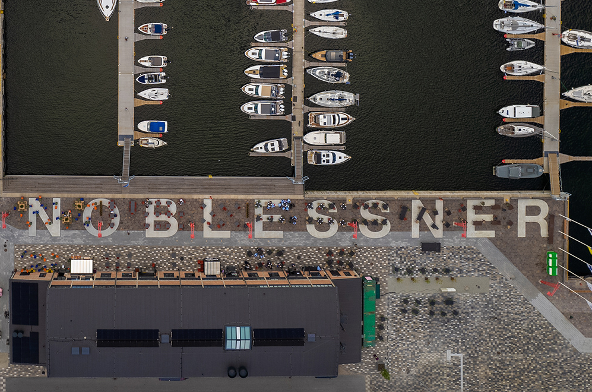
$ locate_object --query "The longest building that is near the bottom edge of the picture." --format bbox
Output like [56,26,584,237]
[10,270,362,380]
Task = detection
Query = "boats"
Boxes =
[308,24,347,39]
[502,38,534,50]
[306,65,352,82]
[137,119,168,133]
[139,136,167,148]
[495,104,542,119]
[241,81,289,98]
[304,130,346,146]
[561,87,592,102]
[247,0,290,7]
[249,137,289,153]
[245,46,292,62]
[560,29,592,50]
[137,87,169,100]
[313,48,356,62]
[138,21,171,36]
[312,8,348,22]
[138,55,172,68]
[496,0,555,13]
[245,65,290,80]
[136,71,170,85]
[307,110,357,127]
[497,59,558,77]
[494,121,559,139]
[491,16,554,35]
[241,99,288,116]
[307,90,357,107]
[307,148,354,165]
[255,28,293,42]
[492,163,544,179]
